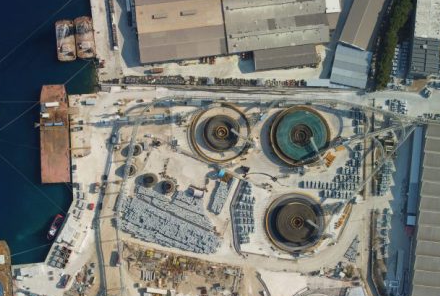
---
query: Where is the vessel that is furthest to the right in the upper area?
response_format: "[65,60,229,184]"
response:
[75,15,95,58]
